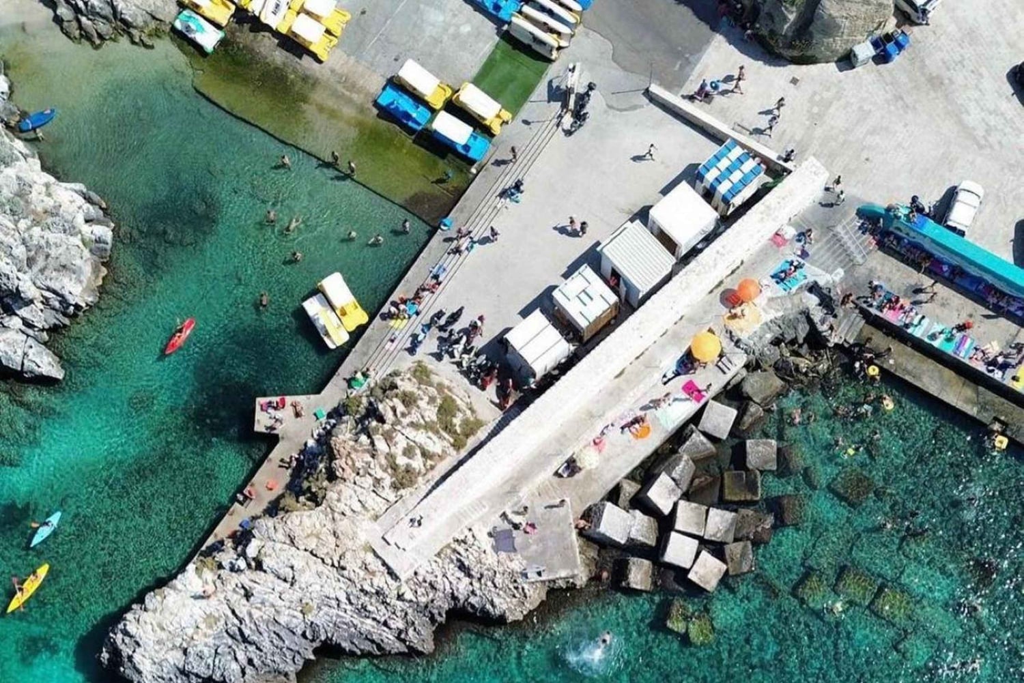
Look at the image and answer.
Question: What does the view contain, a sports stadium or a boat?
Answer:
boat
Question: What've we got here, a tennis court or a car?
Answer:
car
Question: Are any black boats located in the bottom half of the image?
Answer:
No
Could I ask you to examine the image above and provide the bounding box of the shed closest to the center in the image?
[505,309,570,382]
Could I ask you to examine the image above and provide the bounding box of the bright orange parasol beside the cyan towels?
[734,281,760,304]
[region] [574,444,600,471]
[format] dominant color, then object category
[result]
white umbrella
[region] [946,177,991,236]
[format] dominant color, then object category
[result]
white car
